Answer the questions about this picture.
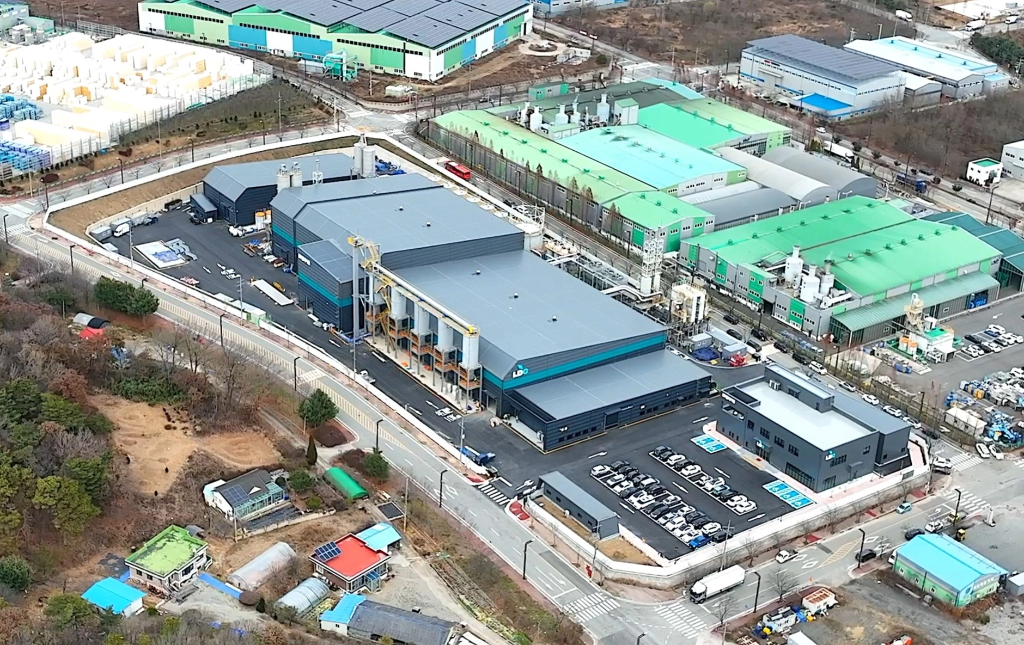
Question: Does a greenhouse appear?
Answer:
Yes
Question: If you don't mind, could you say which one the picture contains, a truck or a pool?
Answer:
truck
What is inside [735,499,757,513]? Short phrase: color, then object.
white car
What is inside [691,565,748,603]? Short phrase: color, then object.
white truck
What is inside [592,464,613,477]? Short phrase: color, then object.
white vehicle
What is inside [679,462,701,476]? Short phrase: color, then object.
white car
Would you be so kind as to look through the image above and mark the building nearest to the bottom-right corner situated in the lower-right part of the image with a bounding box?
[894,536,1002,613]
